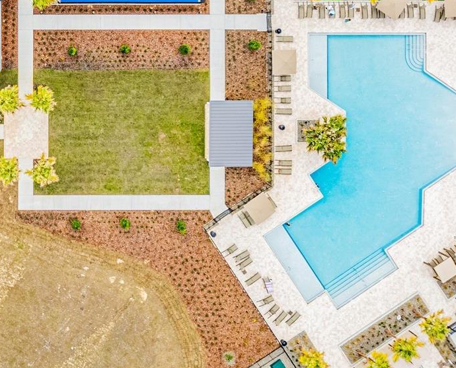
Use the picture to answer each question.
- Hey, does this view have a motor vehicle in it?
No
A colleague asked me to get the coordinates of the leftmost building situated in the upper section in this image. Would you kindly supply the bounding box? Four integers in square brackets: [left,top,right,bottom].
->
[204,100,253,167]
